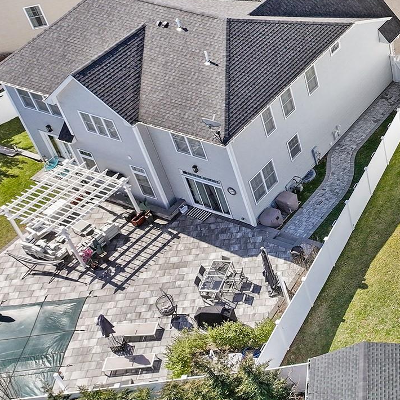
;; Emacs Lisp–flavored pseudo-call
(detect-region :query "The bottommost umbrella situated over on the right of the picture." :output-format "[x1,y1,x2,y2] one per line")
[258,248,282,295]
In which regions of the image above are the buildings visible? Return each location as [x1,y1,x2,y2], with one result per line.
[0,0,400,225]
[305,330,400,400]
